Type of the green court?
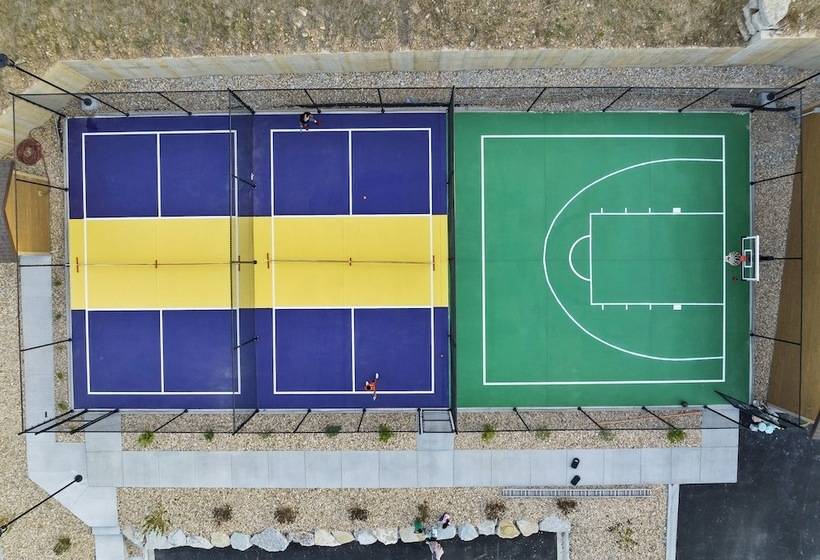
basketball court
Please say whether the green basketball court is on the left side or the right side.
right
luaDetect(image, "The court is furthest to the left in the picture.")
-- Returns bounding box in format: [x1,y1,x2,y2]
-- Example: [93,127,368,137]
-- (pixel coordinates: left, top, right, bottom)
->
[67,115,257,409]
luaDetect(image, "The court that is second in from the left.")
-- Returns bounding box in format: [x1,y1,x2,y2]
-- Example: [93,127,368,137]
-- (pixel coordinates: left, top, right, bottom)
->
[254,113,449,409]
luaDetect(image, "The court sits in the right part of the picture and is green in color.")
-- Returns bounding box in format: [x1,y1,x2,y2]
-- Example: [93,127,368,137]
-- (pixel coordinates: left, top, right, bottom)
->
[456,112,750,407]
